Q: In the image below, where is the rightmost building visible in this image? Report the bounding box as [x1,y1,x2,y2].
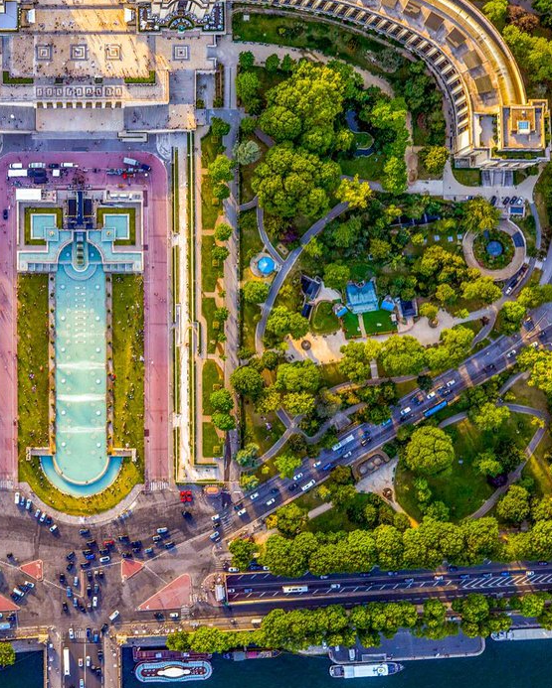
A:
[452,102,547,175]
